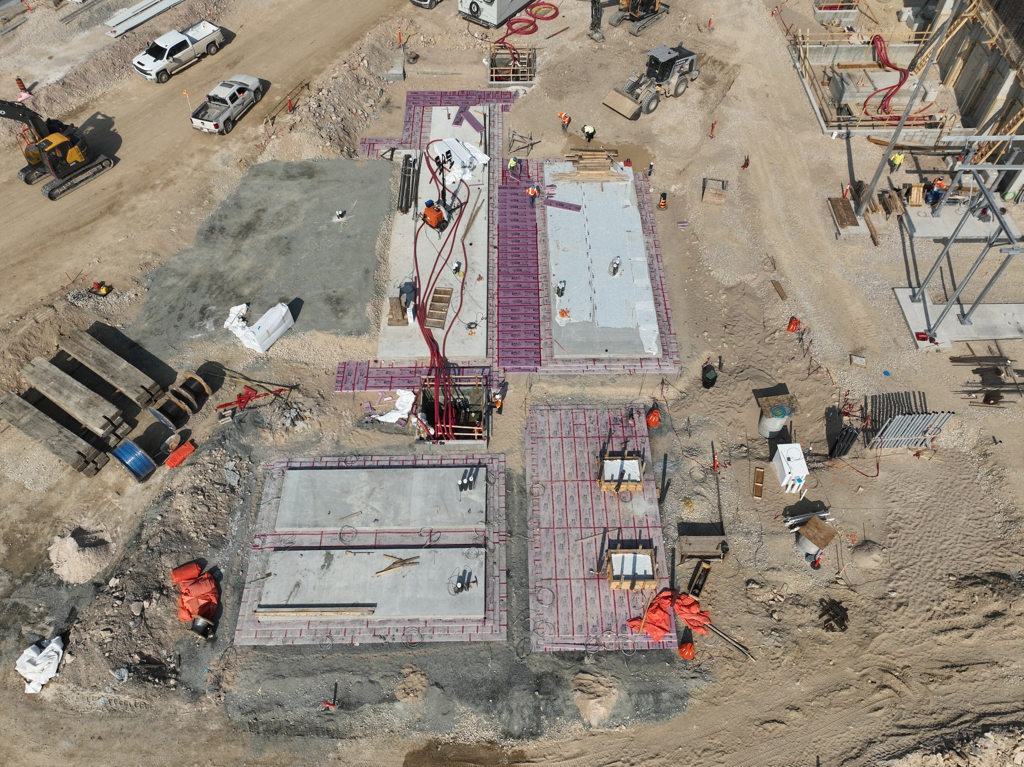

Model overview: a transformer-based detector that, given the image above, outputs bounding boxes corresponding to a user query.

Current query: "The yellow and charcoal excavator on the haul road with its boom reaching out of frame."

[0,111,112,200]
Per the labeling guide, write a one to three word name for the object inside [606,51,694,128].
work vehicle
